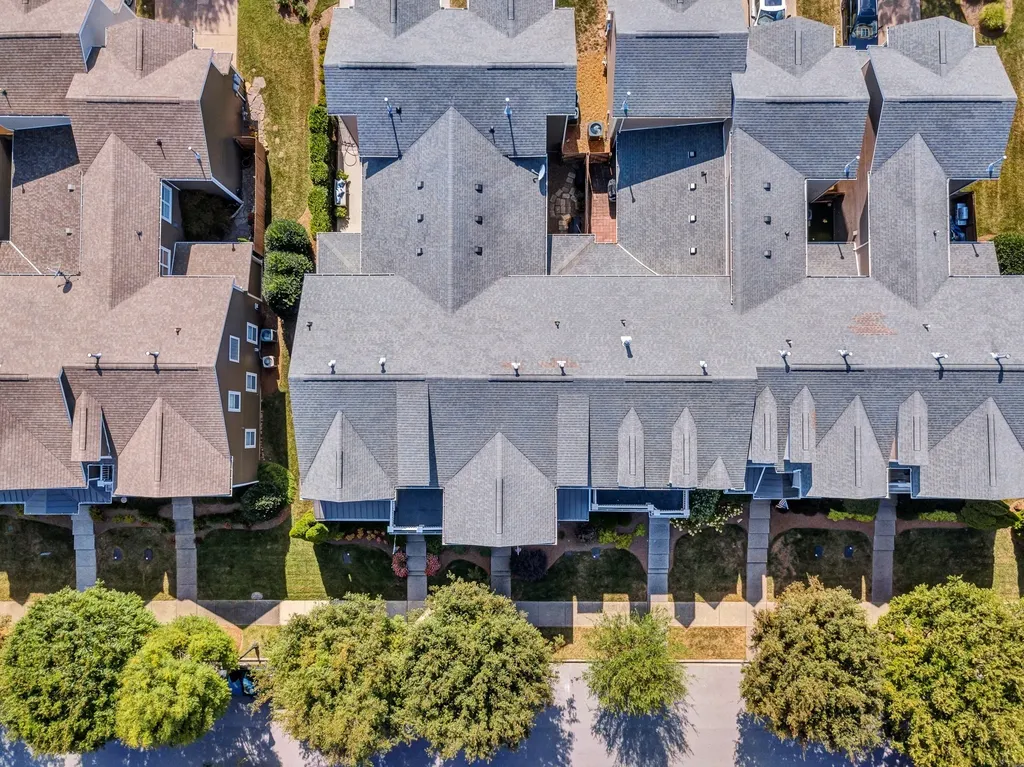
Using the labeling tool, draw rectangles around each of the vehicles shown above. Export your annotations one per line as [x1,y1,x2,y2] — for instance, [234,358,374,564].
[206,662,274,698]
[756,0,789,24]
[845,0,887,55]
